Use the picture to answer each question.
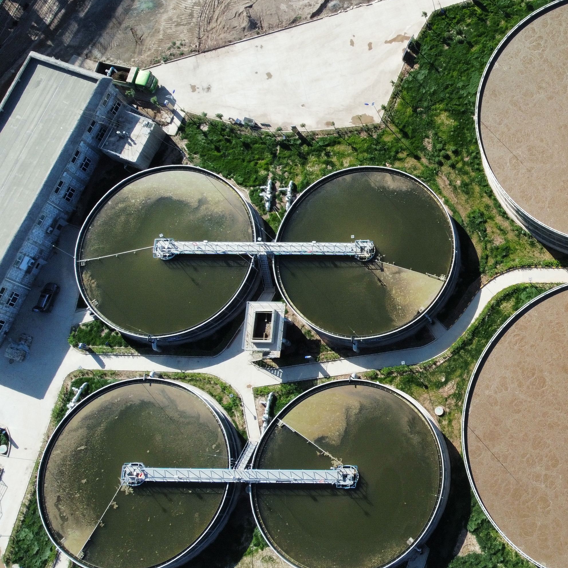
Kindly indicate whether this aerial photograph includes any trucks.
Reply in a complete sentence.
Yes, there is a truck in the image.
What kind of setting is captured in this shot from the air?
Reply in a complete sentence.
The area seen from above is an industrial area.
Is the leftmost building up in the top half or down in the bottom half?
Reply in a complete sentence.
The leftmost building sits in the top half of the picture.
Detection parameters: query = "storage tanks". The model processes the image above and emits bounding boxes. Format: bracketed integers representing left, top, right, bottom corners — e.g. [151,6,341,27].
[274,165,462,347]
[249,378,451,568]
[75,165,267,347]
[462,283,568,568]
[37,377,245,568]
[476,0,568,255]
